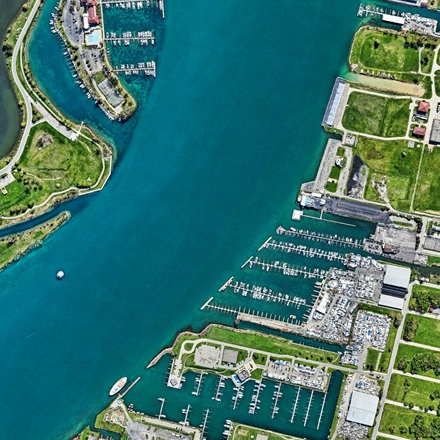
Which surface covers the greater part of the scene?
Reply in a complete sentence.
Most of the picture is covered by water.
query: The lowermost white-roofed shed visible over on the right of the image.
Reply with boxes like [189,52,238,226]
[346,390,380,428]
